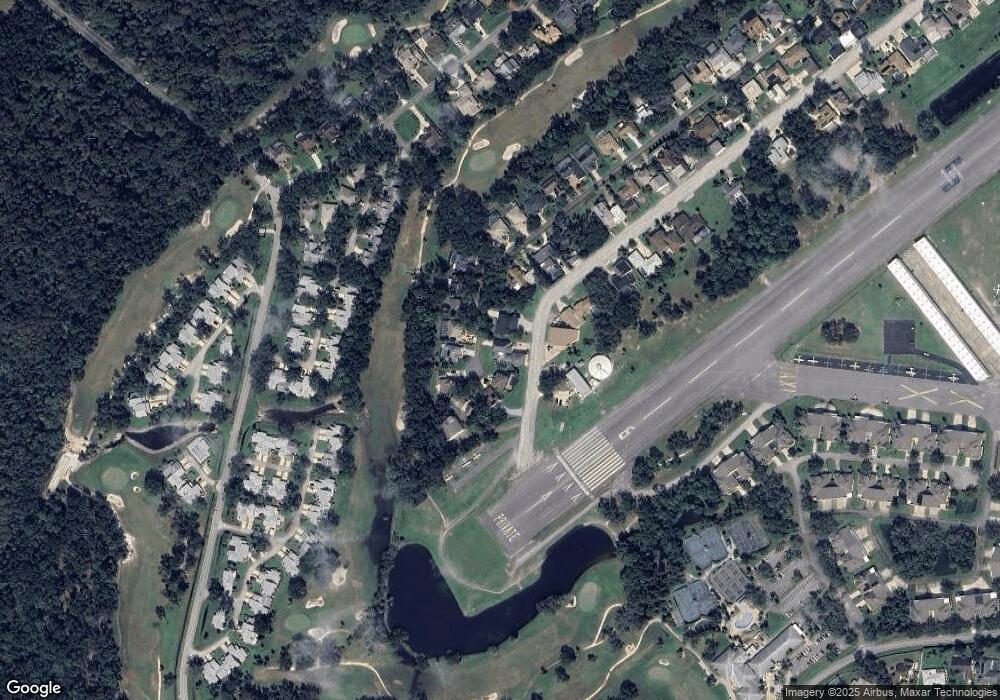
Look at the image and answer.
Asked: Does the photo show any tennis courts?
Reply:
Yes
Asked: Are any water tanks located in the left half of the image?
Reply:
No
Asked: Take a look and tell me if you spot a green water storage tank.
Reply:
No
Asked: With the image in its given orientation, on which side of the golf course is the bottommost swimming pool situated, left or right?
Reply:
on its right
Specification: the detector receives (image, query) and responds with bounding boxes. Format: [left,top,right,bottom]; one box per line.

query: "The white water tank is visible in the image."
[588,355,612,380]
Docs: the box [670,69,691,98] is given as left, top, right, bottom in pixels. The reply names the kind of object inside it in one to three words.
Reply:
house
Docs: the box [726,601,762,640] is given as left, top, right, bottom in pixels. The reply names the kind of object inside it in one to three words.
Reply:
swimming pool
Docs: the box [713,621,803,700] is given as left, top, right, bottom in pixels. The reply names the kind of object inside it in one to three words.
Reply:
building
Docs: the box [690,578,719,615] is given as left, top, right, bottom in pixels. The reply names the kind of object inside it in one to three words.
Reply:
tennis court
